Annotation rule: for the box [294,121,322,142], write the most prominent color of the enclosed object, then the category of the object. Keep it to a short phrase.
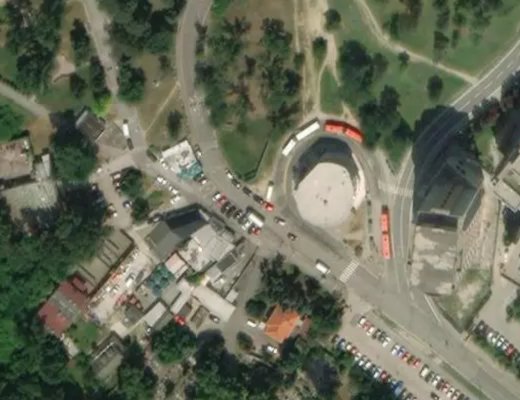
white bus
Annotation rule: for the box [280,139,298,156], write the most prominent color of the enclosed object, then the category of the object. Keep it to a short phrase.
white vehicle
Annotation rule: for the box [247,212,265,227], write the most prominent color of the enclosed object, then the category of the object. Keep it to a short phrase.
white vehicle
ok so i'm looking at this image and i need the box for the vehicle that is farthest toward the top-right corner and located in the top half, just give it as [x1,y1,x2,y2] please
[324,122,364,144]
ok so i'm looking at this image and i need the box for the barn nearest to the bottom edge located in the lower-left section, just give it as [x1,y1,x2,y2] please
[89,332,122,385]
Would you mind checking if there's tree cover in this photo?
Yes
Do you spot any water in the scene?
No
